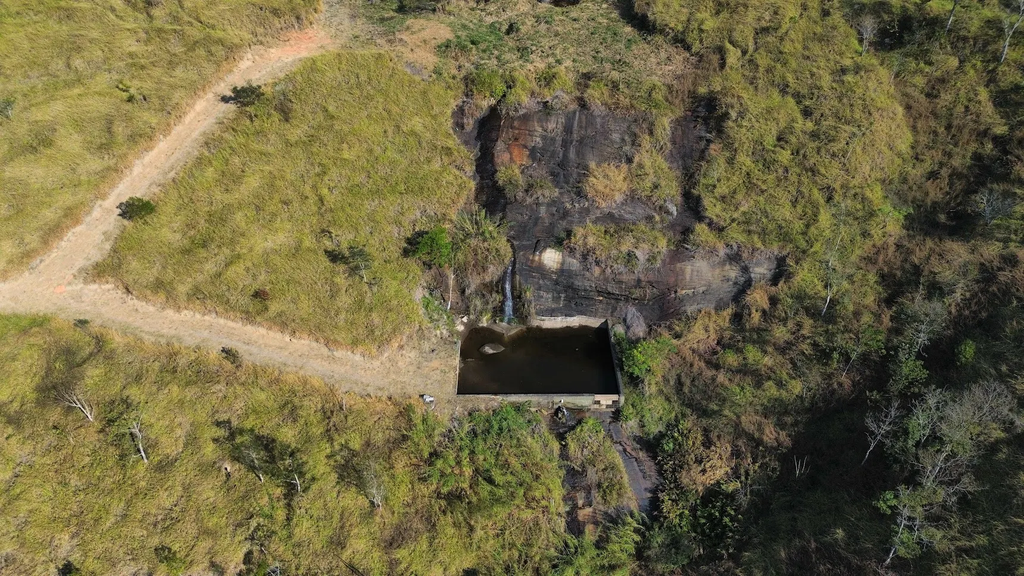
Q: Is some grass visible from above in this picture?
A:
Yes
